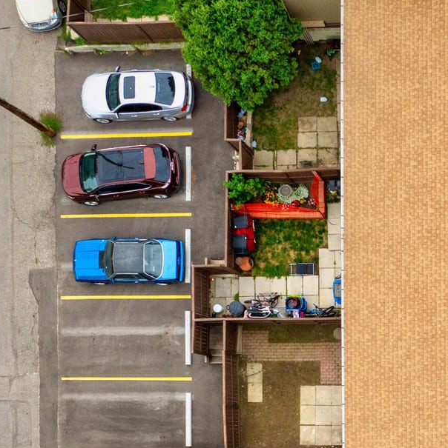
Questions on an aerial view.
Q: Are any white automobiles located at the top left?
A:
Yes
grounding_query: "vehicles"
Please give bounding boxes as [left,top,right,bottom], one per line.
[63,145,182,203]
[15,0,68,36]
[73,233,185,282]
[82,67,194,122]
